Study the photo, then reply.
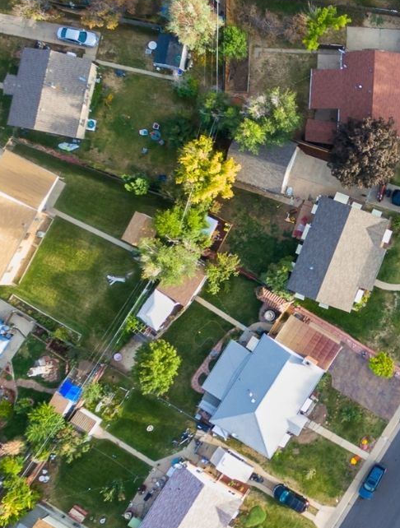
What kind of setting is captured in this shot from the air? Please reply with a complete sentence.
This image shows a residential area.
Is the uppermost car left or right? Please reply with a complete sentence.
The uppermost car is on the left side of the image.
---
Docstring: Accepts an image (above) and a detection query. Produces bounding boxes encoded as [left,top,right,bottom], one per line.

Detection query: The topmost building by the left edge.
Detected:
[1,47,100,138]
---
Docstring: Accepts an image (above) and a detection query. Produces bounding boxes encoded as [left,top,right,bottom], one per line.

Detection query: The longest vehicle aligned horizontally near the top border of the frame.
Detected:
[56,24,100,47]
